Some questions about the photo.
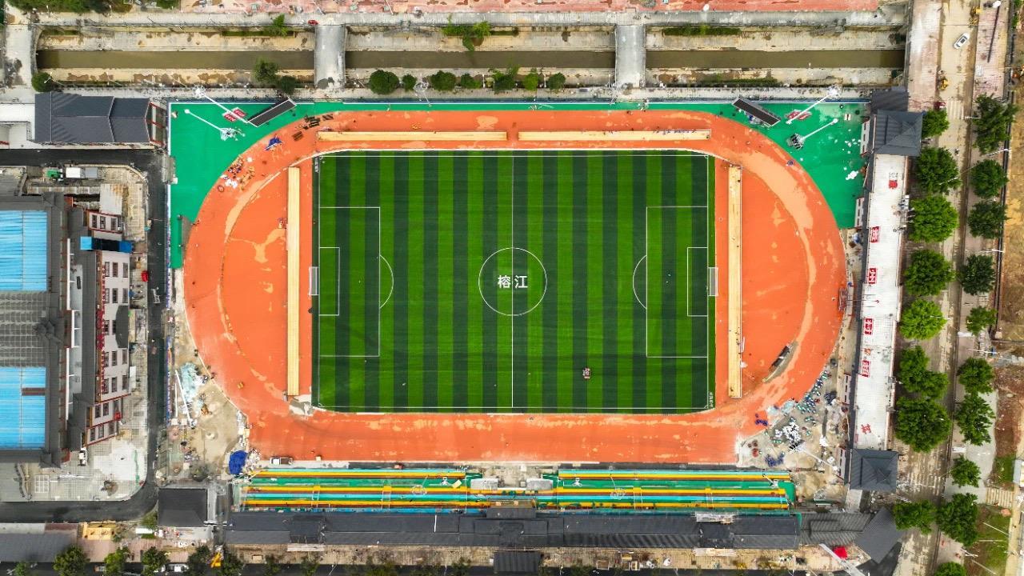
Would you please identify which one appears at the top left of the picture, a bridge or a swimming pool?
bridge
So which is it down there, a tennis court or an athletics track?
athletics track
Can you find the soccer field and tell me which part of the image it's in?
center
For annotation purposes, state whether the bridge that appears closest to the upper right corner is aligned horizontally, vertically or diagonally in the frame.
vertically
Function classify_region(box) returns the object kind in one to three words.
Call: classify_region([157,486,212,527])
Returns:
building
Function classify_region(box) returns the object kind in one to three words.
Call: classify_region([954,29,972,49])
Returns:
car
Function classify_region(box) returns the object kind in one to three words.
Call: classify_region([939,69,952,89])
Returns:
vehicle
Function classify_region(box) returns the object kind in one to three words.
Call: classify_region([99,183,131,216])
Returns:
shed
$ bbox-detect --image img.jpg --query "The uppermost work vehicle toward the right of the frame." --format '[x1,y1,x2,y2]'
[970,2,988,26]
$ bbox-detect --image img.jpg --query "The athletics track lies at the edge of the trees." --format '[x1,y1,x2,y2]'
[182,110,848,463]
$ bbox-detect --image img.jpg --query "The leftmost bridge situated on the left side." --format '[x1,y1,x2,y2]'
[1,21,41,93]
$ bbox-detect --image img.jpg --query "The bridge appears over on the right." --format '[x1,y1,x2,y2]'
[613,21,647,93]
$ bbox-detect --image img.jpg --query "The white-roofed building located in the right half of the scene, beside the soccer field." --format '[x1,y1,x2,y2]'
[837,108,912,489]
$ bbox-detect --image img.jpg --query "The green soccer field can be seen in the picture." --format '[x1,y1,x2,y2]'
[312,151,715,414]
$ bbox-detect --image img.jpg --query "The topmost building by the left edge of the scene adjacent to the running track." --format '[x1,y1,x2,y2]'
[35,91,174,143]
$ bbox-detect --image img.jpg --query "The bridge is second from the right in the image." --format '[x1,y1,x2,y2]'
[312,21,349,93]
